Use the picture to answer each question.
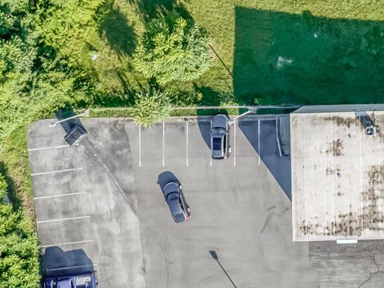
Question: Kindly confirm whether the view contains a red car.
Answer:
No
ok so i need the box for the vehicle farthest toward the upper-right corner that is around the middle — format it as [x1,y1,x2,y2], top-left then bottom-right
[209,115,231,160]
